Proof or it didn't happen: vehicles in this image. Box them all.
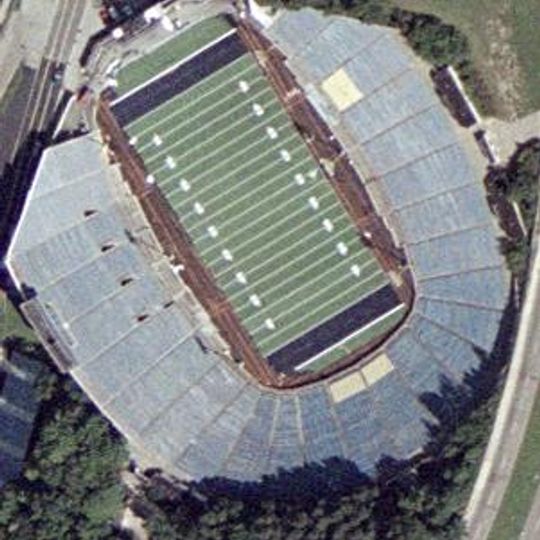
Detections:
[99,11,106,23]
[53,69,62,82]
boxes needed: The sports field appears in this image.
[108,16,406,379]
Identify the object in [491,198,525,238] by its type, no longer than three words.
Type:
building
